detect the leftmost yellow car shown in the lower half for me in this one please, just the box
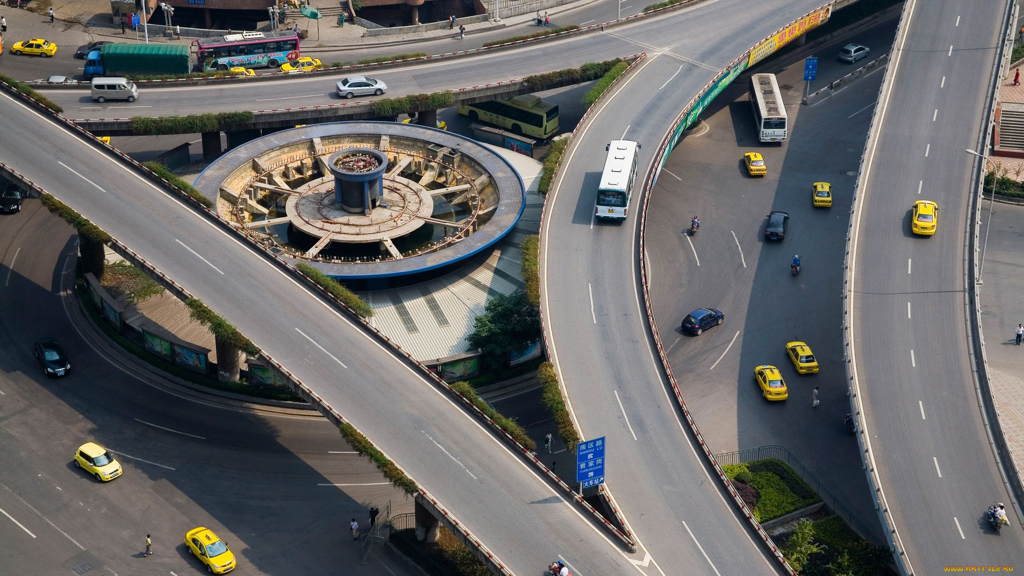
[72,439,120,482]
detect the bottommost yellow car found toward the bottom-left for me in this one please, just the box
[187,526,235,576]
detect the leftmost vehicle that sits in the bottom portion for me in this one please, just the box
[33,337,71,379]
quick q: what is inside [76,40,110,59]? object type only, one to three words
car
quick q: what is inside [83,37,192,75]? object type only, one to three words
truck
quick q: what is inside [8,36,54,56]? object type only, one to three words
car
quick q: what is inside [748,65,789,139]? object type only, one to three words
bus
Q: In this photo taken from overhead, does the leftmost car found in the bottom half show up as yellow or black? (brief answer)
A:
black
